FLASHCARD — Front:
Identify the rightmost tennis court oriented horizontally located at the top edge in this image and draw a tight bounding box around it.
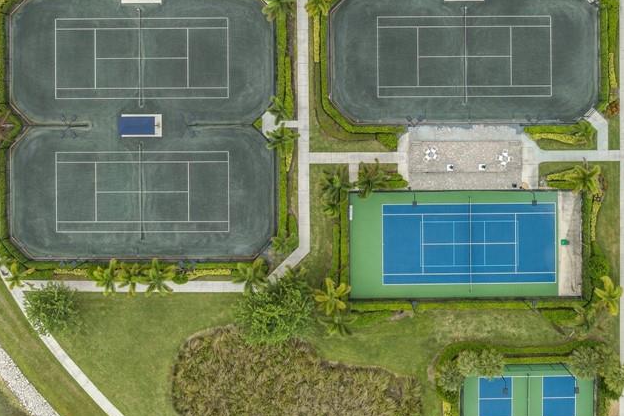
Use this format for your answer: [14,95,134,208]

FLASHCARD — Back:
[331,0,598,123]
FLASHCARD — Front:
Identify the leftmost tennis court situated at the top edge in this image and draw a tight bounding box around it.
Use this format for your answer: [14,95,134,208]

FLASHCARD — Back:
[11,0,273,125]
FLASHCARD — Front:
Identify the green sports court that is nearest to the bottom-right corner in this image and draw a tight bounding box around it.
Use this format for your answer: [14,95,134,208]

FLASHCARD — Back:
[461,363,594,416]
